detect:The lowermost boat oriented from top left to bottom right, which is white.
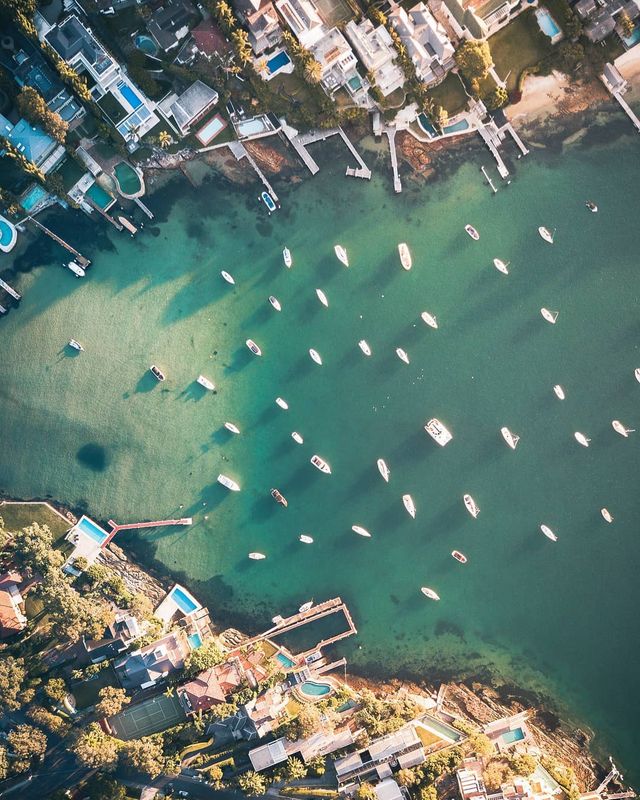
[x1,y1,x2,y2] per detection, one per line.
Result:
[420,587,440,604]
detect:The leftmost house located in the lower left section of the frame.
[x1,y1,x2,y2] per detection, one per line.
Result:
[0,568,30,641]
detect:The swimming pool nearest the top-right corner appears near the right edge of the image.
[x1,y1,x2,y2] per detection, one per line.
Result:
[618,26,640,52]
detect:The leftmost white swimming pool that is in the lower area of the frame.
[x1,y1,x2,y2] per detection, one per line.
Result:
[63,513,111,577]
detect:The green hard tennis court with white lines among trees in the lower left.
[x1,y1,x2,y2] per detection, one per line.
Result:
[109,691,184,743]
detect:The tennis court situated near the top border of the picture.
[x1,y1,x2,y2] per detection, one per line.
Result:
[318,0,362,24]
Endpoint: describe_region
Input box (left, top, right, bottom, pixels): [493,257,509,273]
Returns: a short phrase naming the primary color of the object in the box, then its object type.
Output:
white boat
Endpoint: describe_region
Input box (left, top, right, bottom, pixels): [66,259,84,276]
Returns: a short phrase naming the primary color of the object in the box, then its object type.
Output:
white boat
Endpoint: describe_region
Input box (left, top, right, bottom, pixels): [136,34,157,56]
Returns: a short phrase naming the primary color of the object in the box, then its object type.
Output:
blue swimming pool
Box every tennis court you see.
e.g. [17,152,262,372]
[318,0,362,24]
[109,691,184,743]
